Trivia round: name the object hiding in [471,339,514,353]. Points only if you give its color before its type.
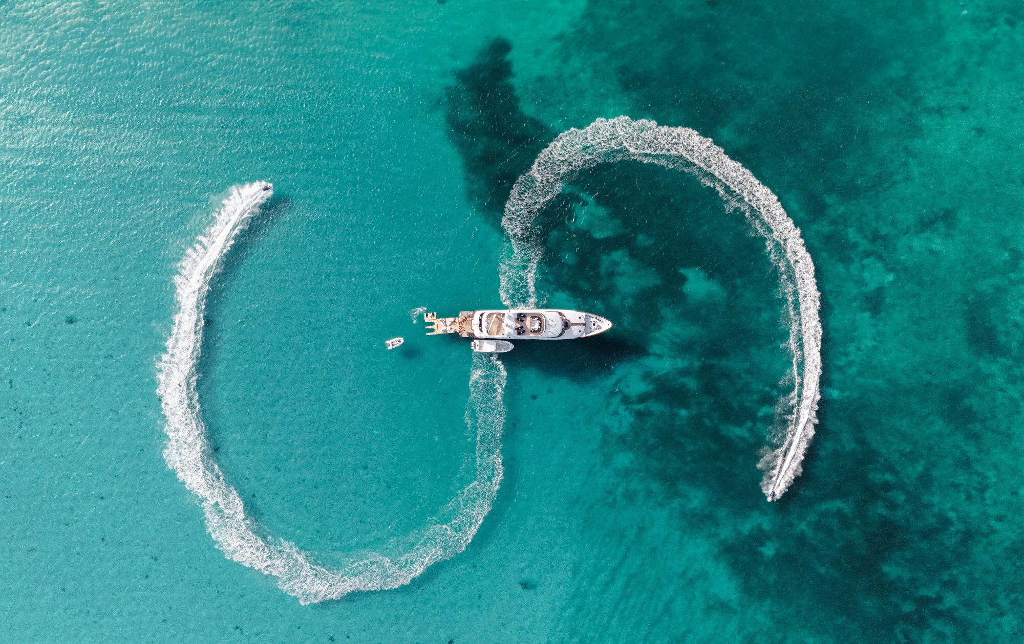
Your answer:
white boat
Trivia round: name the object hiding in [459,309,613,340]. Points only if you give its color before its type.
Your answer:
white boat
